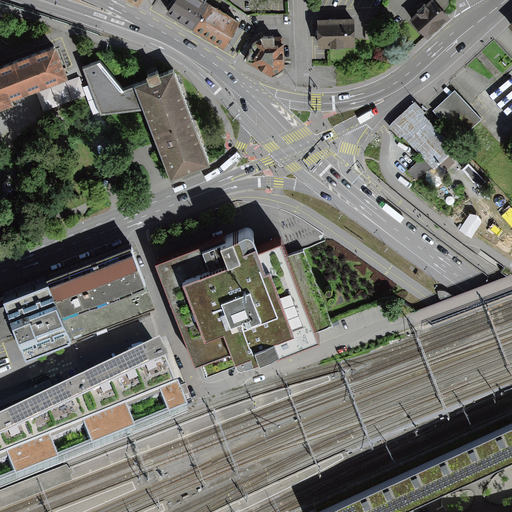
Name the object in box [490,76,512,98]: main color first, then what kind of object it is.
white vehicle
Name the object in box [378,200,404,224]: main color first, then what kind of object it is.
white truck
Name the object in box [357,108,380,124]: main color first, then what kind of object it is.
white vehicle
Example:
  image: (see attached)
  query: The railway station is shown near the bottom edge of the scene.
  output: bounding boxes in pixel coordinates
[0,376,344,512]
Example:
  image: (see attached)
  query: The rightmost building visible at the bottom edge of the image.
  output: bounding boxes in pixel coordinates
[317,421,512,512]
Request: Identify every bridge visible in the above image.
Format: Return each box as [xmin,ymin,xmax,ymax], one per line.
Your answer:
[398,270,512,327]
